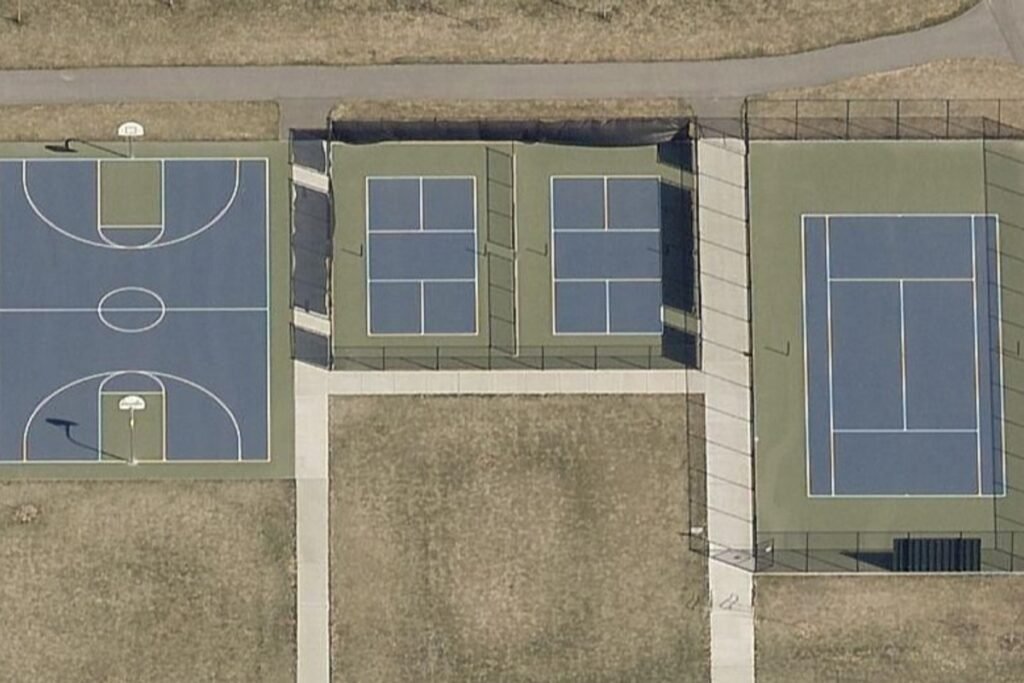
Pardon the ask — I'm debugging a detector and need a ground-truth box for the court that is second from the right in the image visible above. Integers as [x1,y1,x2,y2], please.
[514,143,696,369]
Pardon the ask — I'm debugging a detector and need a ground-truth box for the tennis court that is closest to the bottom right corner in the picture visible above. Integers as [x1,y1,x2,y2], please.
[749,140,1024,571]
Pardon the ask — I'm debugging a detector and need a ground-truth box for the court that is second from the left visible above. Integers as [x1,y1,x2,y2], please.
[333,143,517,370]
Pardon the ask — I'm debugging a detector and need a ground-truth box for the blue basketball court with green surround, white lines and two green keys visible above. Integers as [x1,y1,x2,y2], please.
[0,140,295,480]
